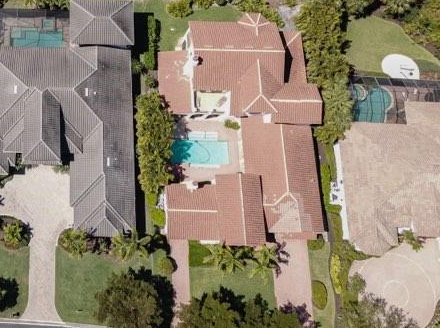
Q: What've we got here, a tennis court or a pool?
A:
pool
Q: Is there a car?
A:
No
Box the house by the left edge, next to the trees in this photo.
[0,0,135,237]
